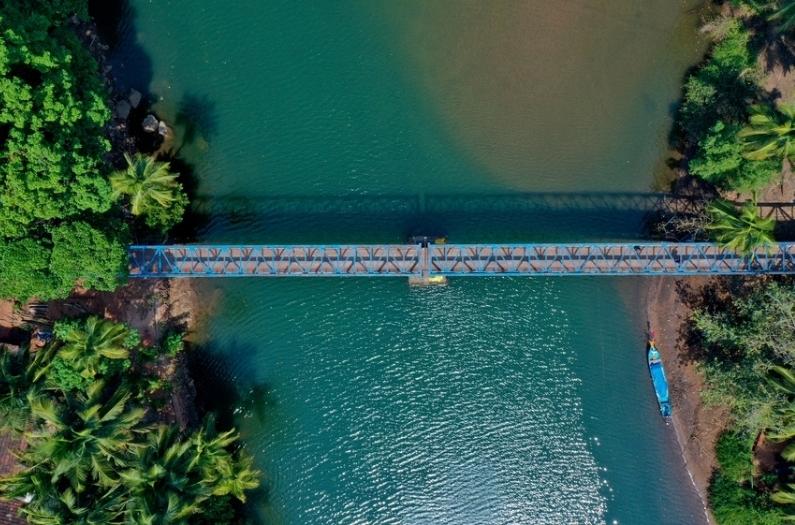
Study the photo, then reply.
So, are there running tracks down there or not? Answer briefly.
No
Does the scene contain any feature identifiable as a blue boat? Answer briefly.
Yes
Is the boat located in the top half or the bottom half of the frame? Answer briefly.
bottom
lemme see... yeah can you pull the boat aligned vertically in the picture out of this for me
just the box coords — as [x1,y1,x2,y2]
[642,320,672,422]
